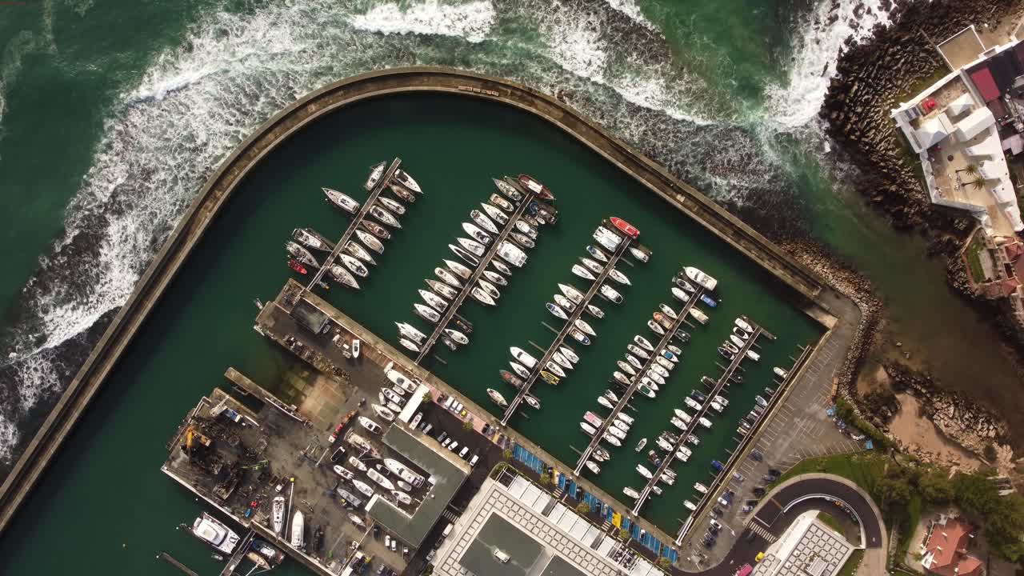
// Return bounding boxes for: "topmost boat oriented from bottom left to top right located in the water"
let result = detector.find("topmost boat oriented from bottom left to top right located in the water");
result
[364,162,385,190]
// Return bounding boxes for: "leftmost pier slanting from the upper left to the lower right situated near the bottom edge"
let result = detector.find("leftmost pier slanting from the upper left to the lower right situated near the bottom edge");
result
[155,551,204,576]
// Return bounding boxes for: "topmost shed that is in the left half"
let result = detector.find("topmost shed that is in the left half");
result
[289,298,330,335]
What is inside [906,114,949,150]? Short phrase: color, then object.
white tent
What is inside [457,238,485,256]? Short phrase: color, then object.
white boat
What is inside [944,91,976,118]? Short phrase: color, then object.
white tent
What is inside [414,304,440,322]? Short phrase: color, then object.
white boat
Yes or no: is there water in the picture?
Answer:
Yes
